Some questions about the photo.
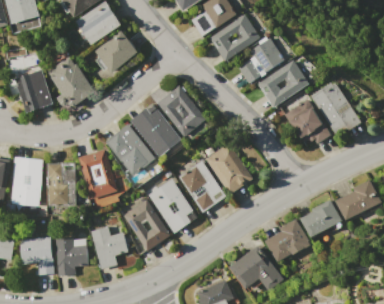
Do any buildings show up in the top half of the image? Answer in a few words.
Yes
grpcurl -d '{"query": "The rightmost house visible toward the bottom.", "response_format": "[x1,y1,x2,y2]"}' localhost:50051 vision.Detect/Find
[336,180,382,220]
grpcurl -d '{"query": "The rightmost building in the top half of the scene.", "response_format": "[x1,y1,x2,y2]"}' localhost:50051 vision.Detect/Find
[312,82,362,134]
